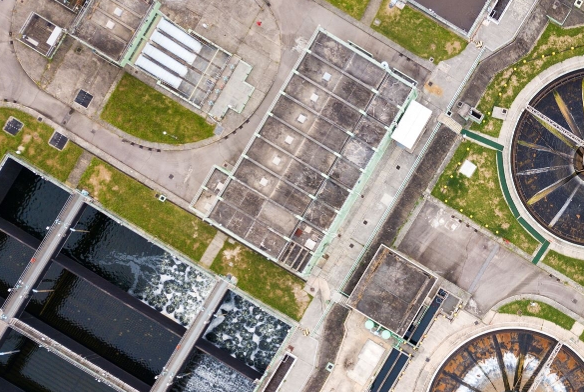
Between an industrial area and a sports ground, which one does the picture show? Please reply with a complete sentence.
The area seen from above is an industrial area.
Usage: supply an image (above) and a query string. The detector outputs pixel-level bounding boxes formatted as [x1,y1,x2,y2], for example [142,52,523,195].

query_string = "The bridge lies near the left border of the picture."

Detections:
[0,191,77,324]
